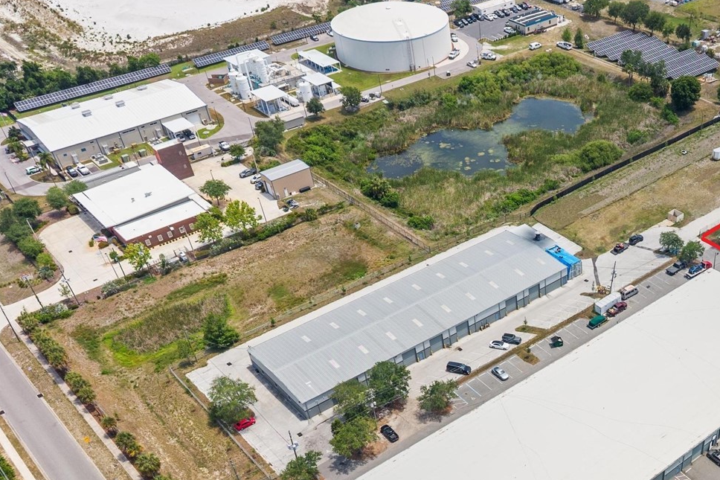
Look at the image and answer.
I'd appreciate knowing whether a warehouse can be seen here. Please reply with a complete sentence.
Yes, a warehouse can be made out from above.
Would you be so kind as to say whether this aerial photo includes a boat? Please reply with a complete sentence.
Yes, a boat is visible in the scene.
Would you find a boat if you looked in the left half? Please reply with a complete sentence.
No, no boat can be made out in the left half.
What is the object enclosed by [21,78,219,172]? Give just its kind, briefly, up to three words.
building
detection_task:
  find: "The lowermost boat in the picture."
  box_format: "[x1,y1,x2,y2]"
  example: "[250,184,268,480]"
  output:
[581,306,611,330]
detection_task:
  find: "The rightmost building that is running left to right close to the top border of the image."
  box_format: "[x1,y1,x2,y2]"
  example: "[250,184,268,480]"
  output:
[510,12,559,36]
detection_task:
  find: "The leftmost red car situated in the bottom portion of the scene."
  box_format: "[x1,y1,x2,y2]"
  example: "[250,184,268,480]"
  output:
[232,416,255,434]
